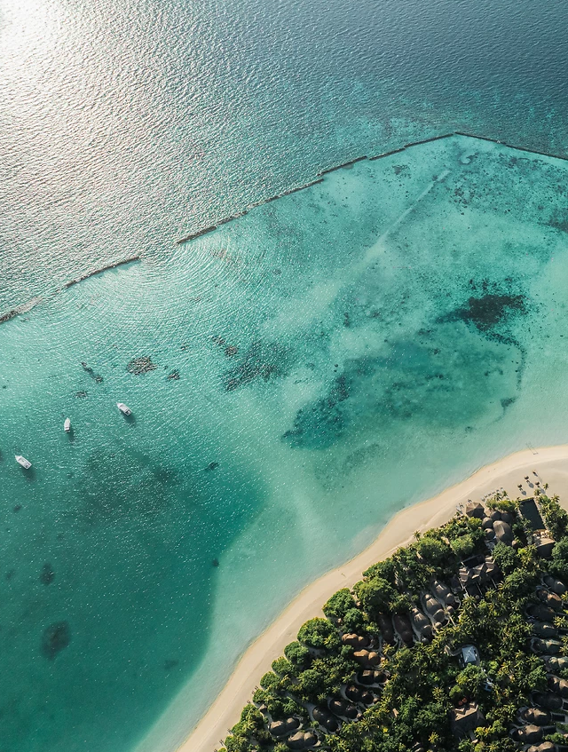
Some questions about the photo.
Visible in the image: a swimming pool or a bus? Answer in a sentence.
Of the two, only a swimming pool appears.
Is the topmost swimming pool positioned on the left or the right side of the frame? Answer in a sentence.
The topmost swimming pool appears in the right half of the scene.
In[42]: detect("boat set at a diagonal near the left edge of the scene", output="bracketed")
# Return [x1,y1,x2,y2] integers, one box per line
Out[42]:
[15,456,32,471]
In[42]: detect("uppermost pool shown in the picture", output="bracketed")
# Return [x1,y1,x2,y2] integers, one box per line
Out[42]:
[518,496,547,534]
